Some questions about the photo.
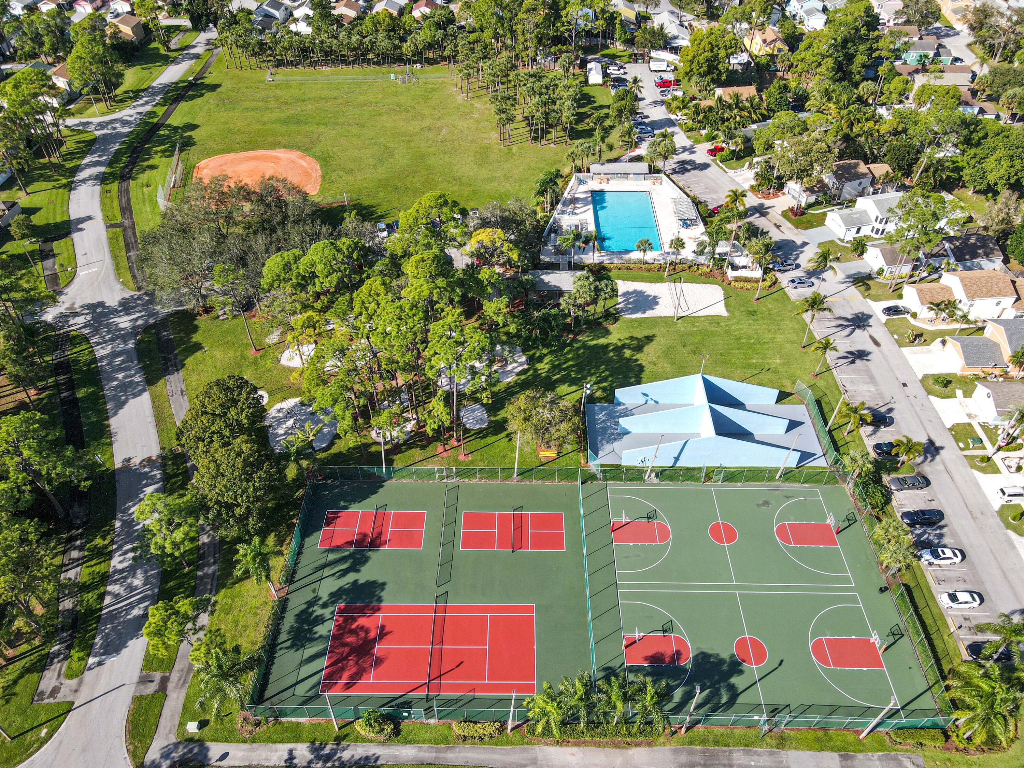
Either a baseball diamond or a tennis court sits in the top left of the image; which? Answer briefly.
baseball diamond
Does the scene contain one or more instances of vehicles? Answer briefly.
Yes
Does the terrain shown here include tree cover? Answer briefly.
Yes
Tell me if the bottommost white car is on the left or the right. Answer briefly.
right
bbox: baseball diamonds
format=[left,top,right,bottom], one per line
[193,150,321,212]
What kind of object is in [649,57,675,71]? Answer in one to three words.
vehicle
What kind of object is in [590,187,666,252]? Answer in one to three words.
swimming pool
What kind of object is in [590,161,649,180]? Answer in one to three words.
building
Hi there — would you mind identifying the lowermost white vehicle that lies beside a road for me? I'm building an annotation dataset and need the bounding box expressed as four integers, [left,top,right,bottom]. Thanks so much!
[942,591,985,611]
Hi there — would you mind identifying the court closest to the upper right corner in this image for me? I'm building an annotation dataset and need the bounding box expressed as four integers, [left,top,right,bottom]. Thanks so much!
[617,281,728,317]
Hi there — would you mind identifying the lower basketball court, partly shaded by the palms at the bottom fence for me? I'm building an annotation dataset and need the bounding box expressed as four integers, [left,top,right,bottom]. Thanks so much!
[619,589,906,720]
